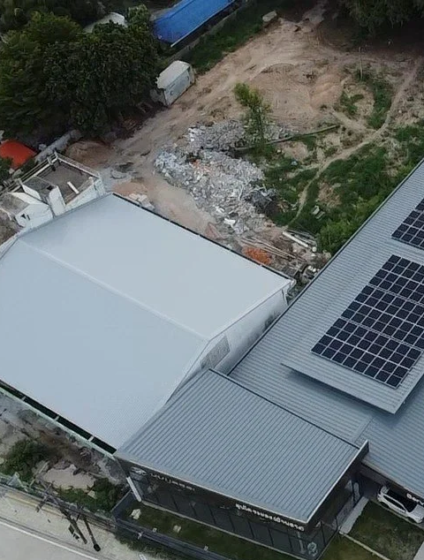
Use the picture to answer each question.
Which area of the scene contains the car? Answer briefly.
bottom right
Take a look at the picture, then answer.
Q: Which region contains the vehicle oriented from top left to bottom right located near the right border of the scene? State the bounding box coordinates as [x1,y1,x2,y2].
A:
[379,488,424,526]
